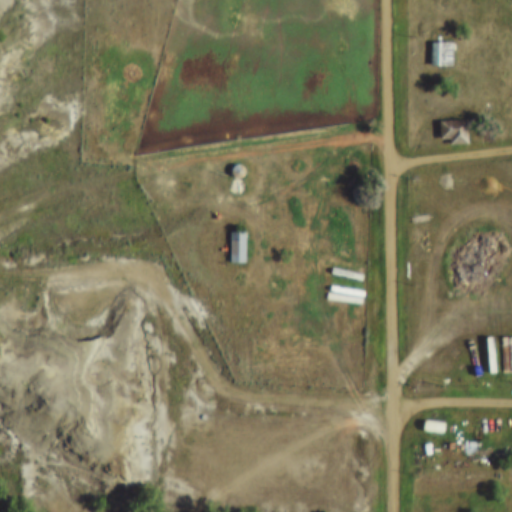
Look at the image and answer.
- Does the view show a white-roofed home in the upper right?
Yes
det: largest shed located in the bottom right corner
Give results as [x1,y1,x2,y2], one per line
[424,420,448,435]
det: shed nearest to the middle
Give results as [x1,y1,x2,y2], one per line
[230,232,247,262]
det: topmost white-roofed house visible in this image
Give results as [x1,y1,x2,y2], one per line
[434,36,458,66]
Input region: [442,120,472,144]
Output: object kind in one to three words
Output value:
house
